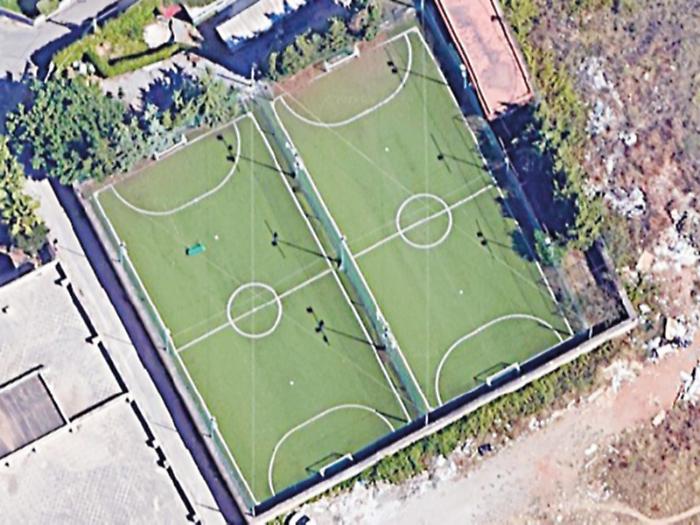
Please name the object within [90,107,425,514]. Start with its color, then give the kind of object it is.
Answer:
green soccer field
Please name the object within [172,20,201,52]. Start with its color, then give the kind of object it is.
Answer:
white gazebo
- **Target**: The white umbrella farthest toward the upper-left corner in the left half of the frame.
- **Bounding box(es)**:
[144,21,172,48]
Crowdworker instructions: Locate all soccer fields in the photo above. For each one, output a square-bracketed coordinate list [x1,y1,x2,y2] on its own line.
[253,24,577,426]
[90,107,425,514]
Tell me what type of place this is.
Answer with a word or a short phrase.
sports ground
